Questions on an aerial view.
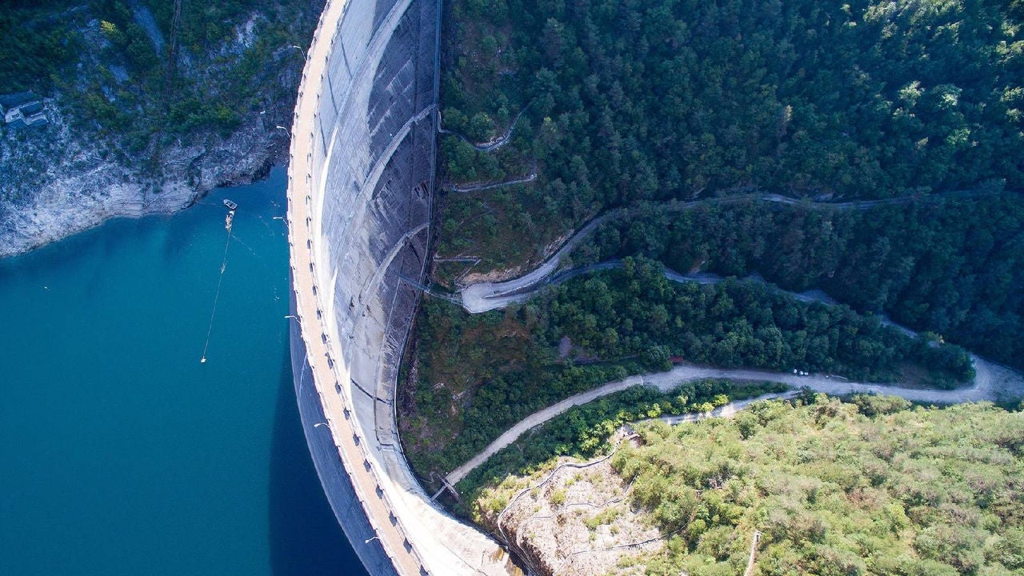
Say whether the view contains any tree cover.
Yes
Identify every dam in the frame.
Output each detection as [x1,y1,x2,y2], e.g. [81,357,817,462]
[286,0,529,576]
